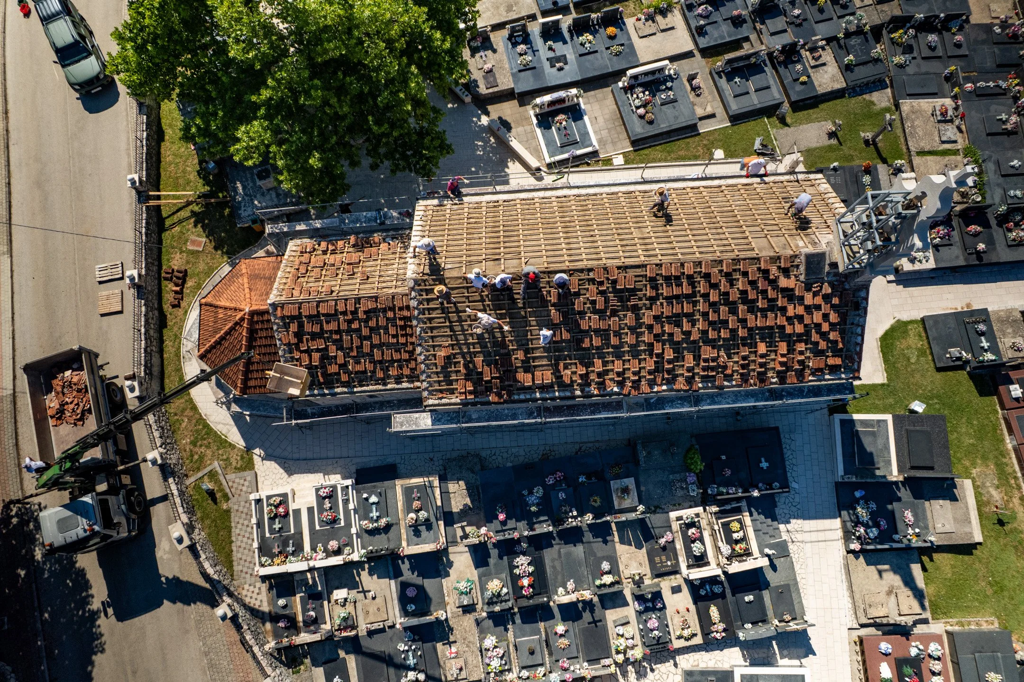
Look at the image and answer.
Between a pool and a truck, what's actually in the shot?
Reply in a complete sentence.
This aerial view contains a truck.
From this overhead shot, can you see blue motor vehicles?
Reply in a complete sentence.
No, no blue motor vehicle is visible in the view.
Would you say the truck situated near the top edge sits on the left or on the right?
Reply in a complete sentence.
You can find the truck situated near the top edge on the left side of the picture.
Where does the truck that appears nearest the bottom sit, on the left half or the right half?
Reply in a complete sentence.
You can find the truck that appears nearest the bottom on the left side of the picture.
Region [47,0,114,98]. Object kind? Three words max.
truck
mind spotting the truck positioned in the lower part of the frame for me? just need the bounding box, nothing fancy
[9,347,279,580]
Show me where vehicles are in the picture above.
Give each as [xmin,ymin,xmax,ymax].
[47,0,114,98]
[9,347,279,580]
